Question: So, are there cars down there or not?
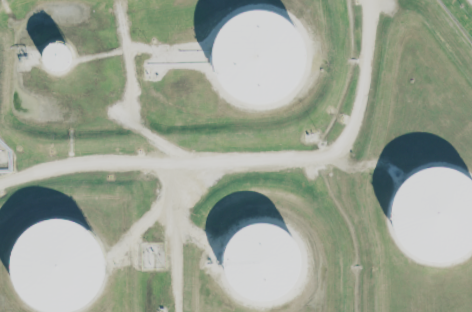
No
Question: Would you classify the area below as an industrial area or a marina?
industrial area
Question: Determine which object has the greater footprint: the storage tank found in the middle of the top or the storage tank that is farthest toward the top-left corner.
the storage tank found in the middle of the top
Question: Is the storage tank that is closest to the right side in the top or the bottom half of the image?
bottom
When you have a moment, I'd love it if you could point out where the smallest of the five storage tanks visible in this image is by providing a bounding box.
[40,42,72,75]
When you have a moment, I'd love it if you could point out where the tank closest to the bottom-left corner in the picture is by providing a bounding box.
[7,218,106,312]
